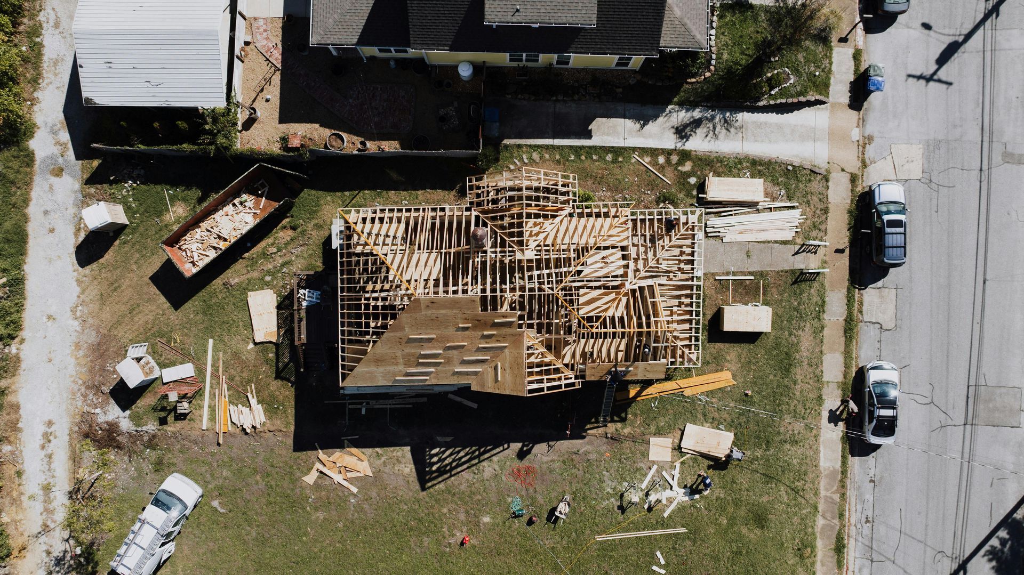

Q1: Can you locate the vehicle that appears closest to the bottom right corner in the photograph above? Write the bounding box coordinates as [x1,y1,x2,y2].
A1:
[856,360,903,443]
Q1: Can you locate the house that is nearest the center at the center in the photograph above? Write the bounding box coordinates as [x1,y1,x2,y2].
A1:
[338,167,705,397]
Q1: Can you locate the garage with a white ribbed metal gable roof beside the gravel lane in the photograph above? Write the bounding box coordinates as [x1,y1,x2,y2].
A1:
[72,0,232,114]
